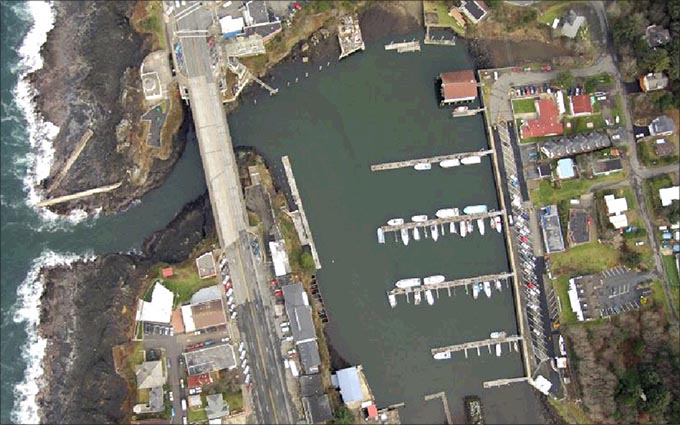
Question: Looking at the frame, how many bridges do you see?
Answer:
1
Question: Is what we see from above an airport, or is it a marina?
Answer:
marina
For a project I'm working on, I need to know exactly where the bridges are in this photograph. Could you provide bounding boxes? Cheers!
[189,76,250,250]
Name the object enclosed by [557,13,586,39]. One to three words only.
house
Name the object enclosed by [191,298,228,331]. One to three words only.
building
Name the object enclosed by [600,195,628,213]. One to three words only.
house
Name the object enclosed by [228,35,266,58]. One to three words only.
building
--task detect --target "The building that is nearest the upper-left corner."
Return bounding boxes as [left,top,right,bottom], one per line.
[142,73,163,101]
